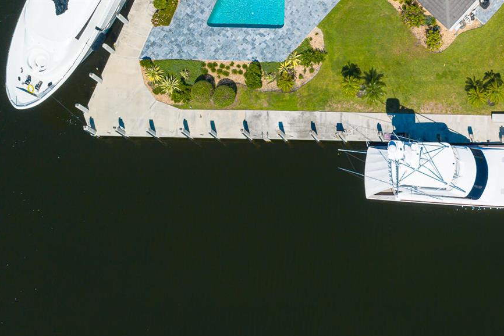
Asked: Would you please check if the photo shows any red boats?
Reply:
No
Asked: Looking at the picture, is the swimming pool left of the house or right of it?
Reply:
to the left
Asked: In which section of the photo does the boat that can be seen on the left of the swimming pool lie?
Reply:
top left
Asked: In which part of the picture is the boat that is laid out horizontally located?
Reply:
right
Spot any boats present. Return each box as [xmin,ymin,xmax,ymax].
[338,127,504,208]
[2,0,137,109]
